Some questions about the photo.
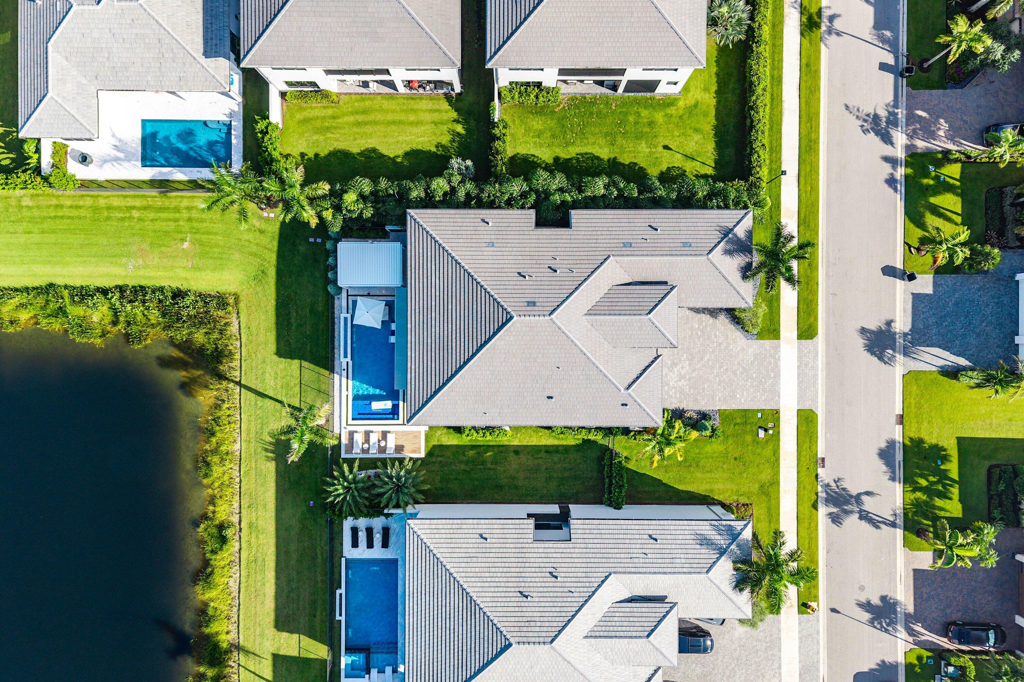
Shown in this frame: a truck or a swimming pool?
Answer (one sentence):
Visible in the photo is a swimming pool.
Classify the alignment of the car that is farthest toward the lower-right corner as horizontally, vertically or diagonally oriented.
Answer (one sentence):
What the image shows is the car that is farthest toward the lower-right corner lying horizontally.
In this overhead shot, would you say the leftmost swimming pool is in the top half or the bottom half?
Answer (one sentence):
It is in the top half that the leftmost swimming pool appears.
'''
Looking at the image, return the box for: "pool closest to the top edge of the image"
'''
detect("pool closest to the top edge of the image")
[141,119,233,168]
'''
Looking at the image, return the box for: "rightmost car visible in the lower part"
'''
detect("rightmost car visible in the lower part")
[946,619,1003,649]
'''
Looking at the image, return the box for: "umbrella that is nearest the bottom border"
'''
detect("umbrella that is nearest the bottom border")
[352,296,388,329]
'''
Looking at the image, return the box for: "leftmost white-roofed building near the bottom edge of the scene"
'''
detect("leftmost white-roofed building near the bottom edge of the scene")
[405,503,753,682]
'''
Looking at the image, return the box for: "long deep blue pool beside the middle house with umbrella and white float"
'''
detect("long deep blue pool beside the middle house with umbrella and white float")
[352,300,400,421]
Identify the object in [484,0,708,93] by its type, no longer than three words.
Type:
house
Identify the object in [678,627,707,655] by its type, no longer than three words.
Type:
car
